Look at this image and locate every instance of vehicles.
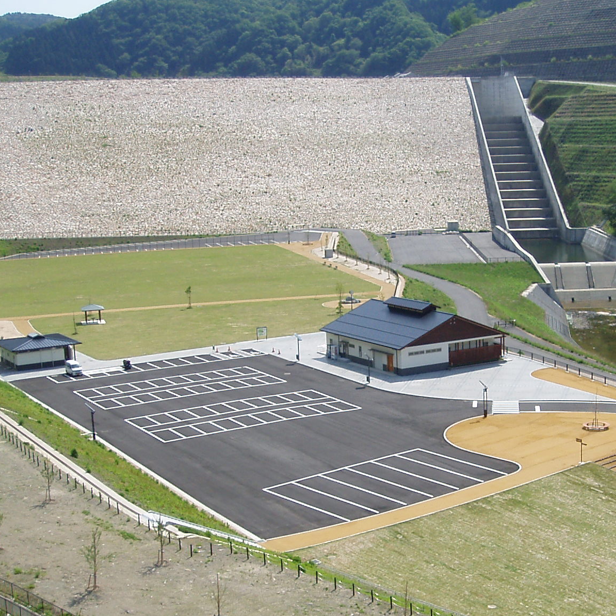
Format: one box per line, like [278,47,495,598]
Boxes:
[122,359,134,369]
[65,356,87,375]
[389,232,396,238]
